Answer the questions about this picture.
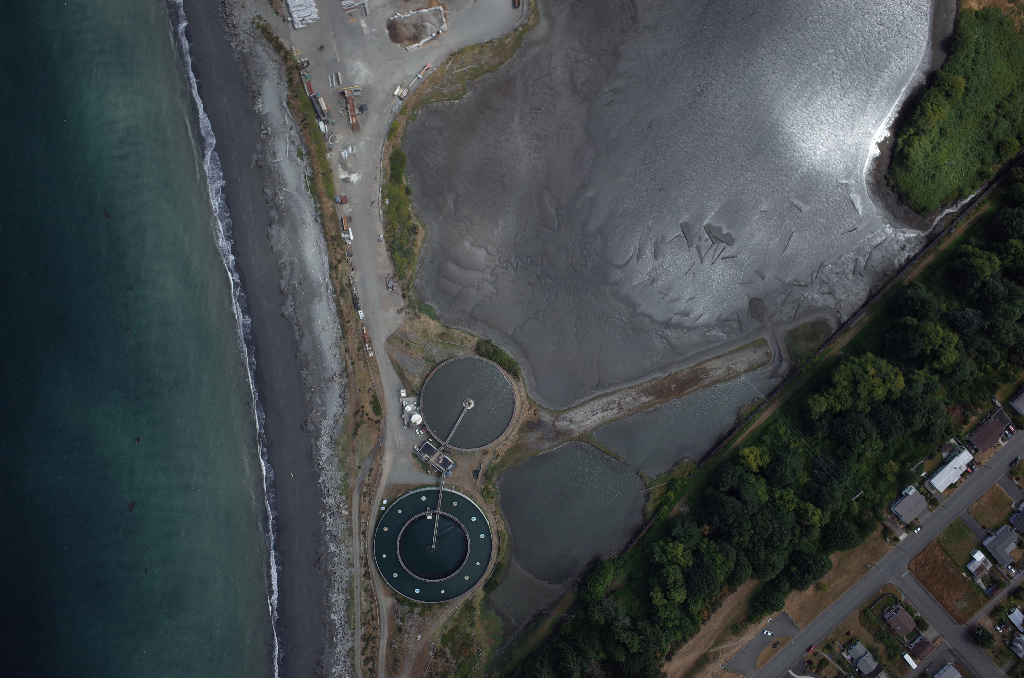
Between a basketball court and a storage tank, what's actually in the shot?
storage tank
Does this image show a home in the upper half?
No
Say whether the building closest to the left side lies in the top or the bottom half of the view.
bottom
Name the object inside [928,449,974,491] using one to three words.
house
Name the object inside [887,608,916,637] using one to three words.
house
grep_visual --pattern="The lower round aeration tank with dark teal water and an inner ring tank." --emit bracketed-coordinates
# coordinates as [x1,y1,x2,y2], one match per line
[375,471,492,604]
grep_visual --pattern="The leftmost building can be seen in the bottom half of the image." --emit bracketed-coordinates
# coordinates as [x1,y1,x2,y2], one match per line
[417,440,457,473]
